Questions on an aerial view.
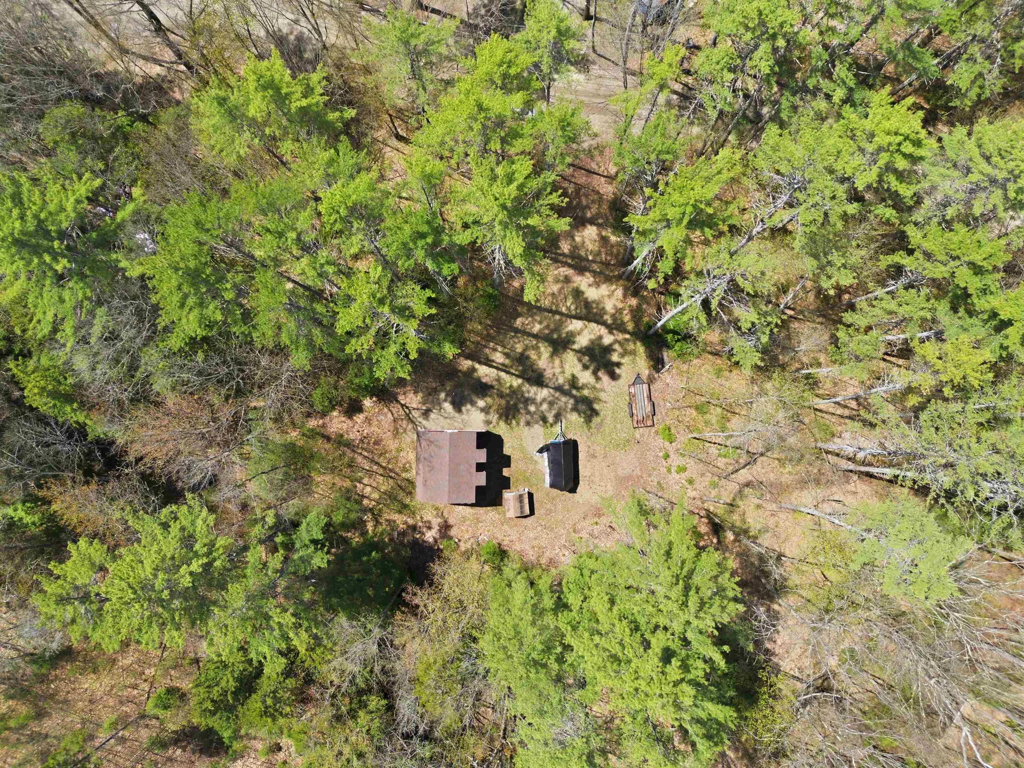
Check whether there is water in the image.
No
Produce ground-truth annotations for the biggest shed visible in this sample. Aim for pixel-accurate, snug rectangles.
[414,427,487,505]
